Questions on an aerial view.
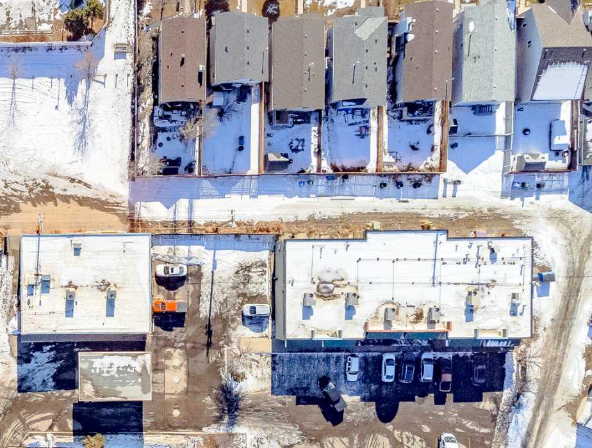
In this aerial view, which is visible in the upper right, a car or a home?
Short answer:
home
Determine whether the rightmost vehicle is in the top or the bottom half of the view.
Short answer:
bottom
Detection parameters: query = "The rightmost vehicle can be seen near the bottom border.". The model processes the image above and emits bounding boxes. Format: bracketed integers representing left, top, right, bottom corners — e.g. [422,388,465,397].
[570,391,592,431]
